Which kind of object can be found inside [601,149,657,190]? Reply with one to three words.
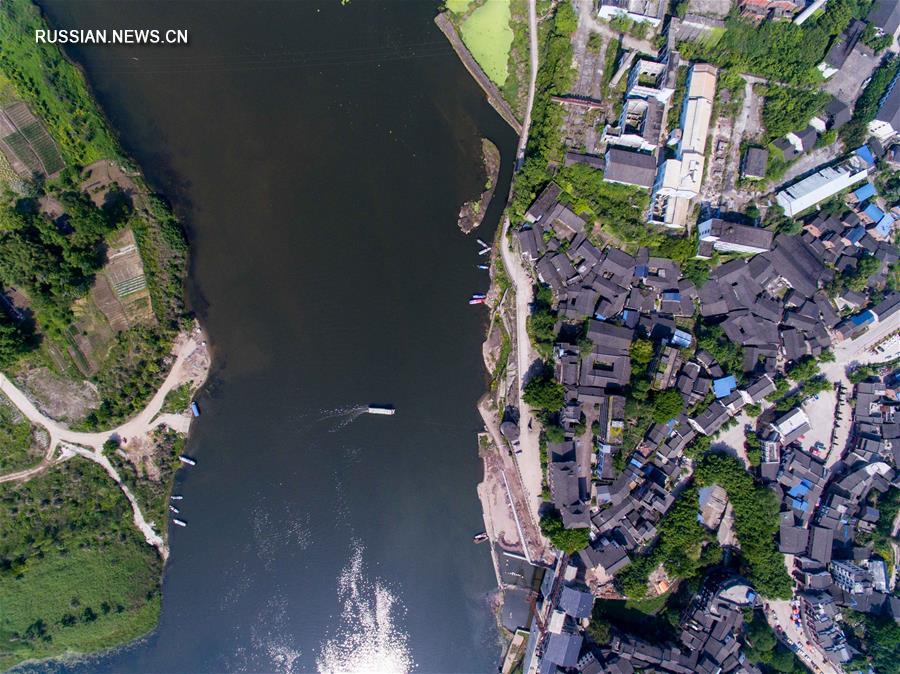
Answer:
building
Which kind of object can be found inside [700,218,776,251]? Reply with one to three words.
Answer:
house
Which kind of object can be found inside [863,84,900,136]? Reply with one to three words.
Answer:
house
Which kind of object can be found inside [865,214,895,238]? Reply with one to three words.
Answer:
shed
